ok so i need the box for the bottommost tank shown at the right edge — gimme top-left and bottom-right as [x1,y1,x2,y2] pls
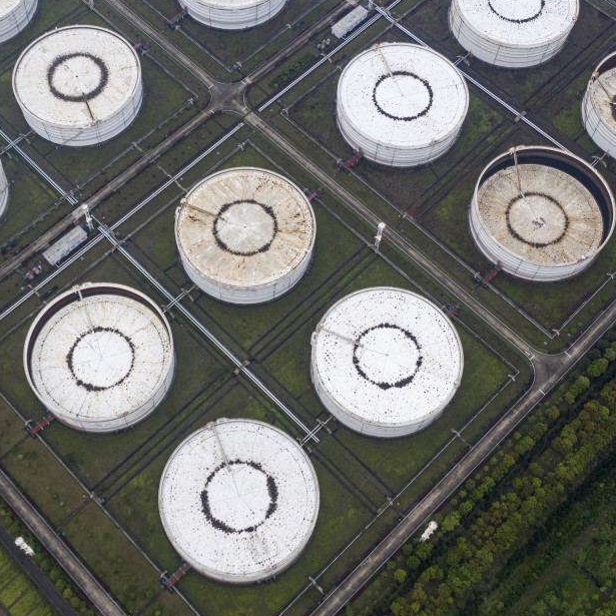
[464,145,616,284]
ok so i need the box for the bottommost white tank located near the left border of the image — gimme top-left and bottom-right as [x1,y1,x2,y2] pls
[23,281,179,437]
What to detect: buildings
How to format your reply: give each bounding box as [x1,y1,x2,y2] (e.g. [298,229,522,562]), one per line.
[331,5,368,38]
[43,225,88,265]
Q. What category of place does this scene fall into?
industrial area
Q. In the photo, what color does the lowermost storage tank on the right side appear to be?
white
